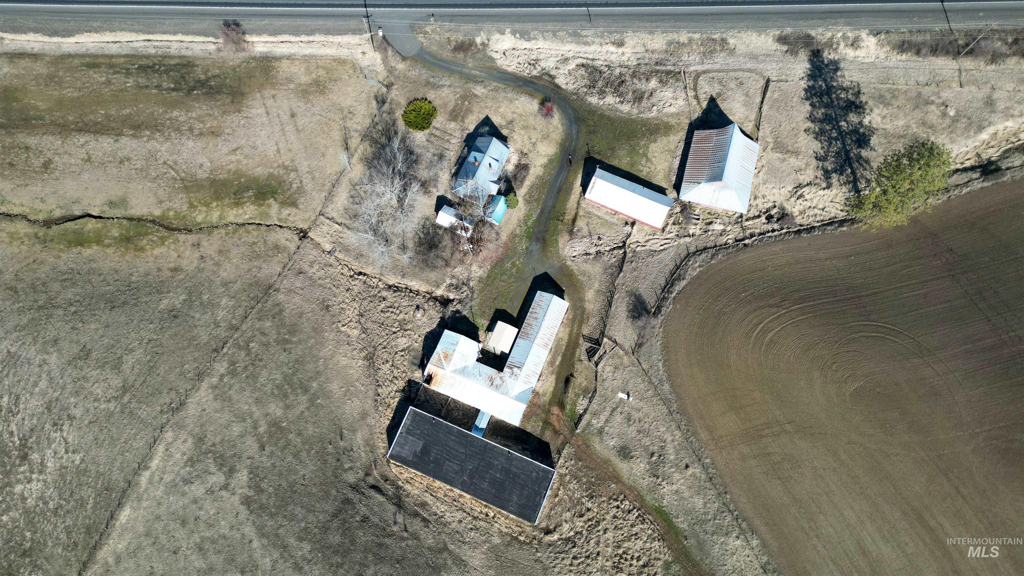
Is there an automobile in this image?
No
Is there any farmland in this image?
Yes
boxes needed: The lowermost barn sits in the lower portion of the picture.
[387,406,556,525]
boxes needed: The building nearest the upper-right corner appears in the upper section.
[679,122,759,214]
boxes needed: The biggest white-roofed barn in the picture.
[422,291,569,426]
